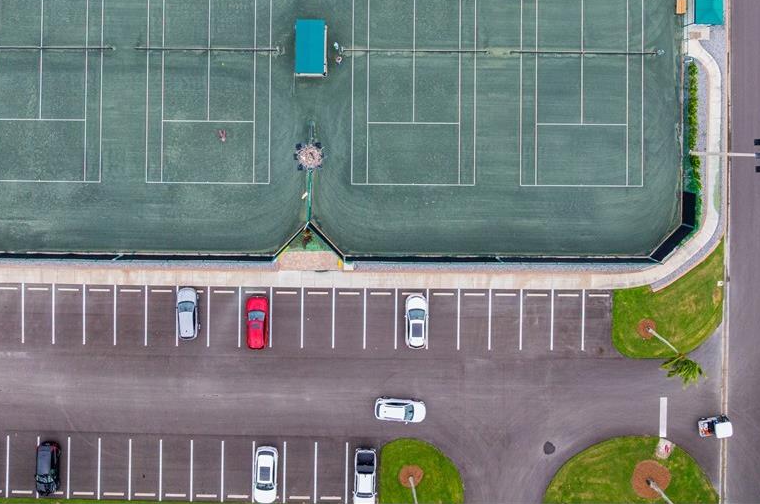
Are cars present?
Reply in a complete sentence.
Yes, a car appears in the view.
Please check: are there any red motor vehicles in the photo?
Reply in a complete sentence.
Yes, looking at the shot, I can spot a red motor vehicle.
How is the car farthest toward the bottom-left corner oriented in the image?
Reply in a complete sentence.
What the image shows is the car farthest toward the bottom-left corner lying from top to bottom.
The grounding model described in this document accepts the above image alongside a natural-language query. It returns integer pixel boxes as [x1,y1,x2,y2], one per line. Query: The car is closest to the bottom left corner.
[35,438,63,494]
